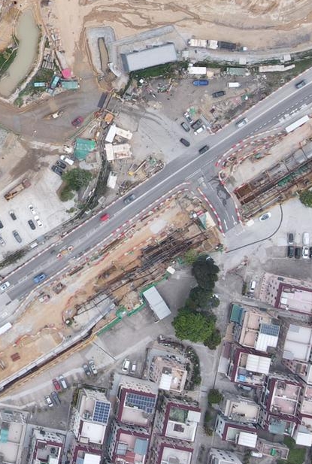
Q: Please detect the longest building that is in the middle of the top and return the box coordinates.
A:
[118,43,177,72]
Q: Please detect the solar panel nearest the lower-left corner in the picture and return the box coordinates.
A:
[93,398,114,429]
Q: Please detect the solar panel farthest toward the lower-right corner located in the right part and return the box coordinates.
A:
[262,320,283,335]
